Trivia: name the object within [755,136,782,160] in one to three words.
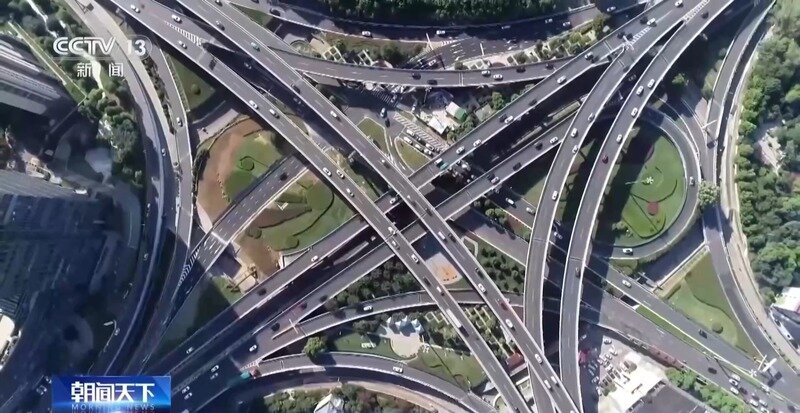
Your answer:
building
